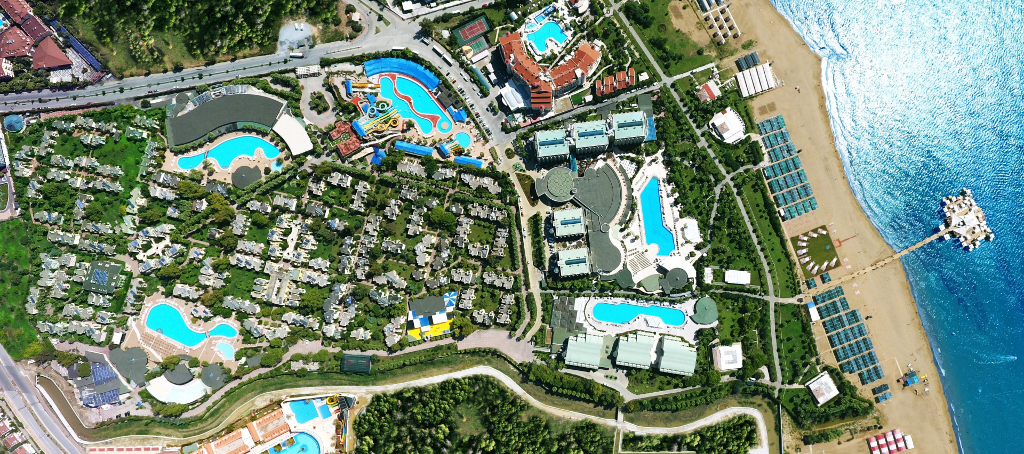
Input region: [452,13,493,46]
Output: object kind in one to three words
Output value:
tennis court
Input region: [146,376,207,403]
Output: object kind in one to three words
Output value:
building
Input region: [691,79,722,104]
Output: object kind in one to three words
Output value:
house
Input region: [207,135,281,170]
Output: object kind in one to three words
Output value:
swimming pool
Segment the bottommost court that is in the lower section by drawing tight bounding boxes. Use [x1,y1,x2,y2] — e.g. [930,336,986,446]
[340,355,371,374]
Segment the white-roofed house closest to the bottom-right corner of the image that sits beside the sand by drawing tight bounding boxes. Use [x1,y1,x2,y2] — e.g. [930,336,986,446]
[804,372,839,406]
